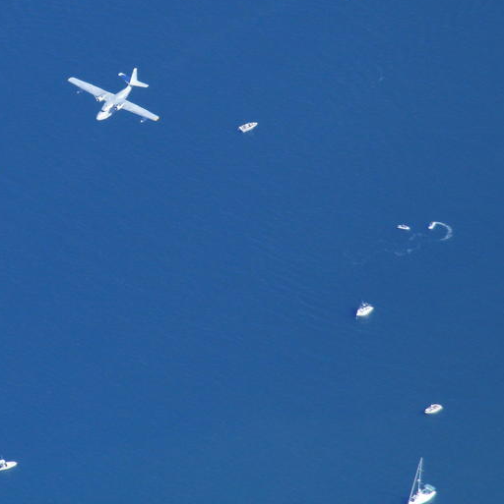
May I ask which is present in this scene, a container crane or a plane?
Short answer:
plane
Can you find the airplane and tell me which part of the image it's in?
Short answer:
top left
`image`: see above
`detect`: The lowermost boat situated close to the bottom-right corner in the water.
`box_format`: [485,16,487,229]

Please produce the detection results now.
[407,458,437,504]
